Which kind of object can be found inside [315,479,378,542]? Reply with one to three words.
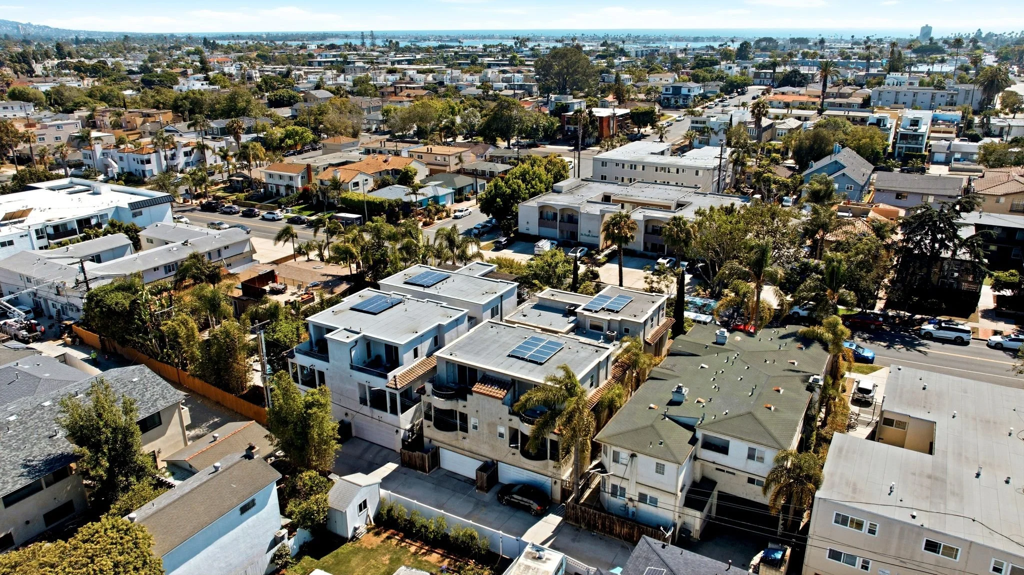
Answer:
shed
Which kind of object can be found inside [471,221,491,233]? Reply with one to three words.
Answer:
vehicle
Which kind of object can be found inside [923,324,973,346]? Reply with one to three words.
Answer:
car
